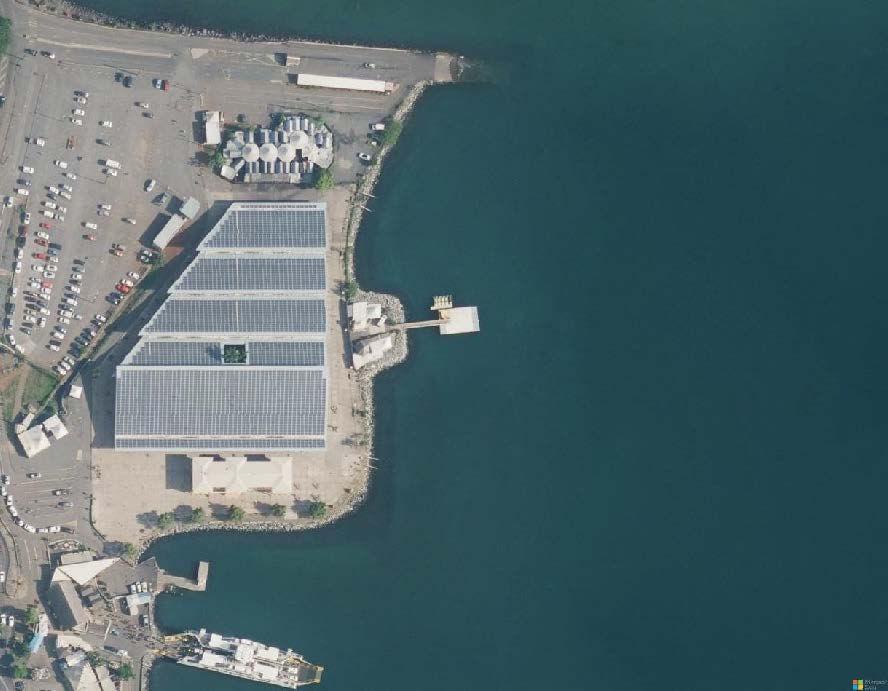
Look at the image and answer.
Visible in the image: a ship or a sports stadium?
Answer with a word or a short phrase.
ship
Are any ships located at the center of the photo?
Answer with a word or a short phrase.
No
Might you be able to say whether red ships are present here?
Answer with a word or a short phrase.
No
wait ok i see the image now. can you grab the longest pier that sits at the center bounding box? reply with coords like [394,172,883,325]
[391,306,480,335]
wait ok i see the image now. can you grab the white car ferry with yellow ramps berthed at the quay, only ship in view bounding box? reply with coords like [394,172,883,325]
[157,629,324,688]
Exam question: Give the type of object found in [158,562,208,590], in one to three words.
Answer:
pier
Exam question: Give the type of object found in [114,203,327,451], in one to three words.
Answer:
building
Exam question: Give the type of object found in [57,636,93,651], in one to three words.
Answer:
building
